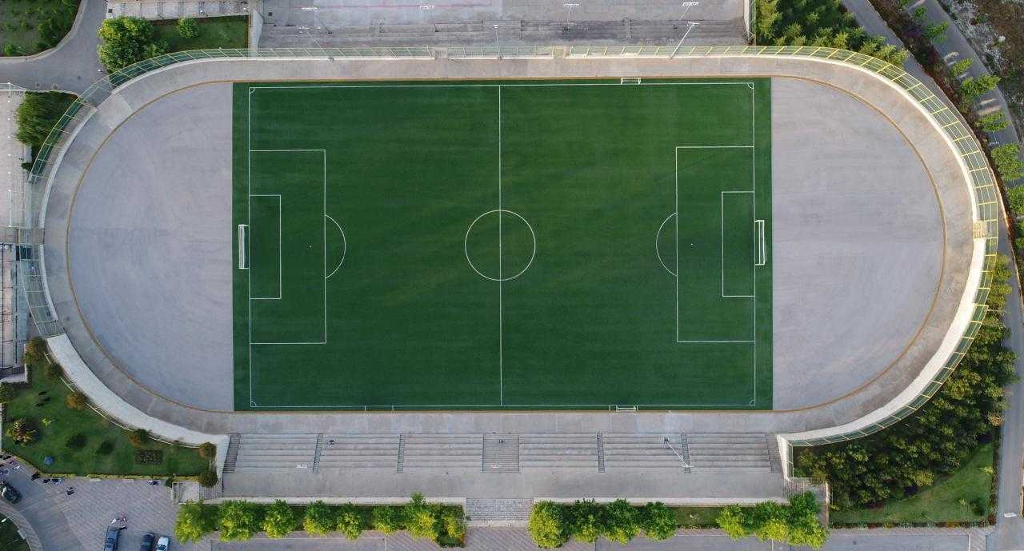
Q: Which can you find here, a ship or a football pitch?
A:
football pitch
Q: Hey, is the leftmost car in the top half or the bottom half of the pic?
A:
bottom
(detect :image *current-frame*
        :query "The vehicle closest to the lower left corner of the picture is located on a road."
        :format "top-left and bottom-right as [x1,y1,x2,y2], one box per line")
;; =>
[0,480,23,504]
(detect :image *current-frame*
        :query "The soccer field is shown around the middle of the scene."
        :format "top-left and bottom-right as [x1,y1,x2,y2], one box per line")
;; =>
[233,78,773,411]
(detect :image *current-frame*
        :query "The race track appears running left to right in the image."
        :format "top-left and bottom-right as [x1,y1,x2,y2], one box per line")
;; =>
[43,57,974,434]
